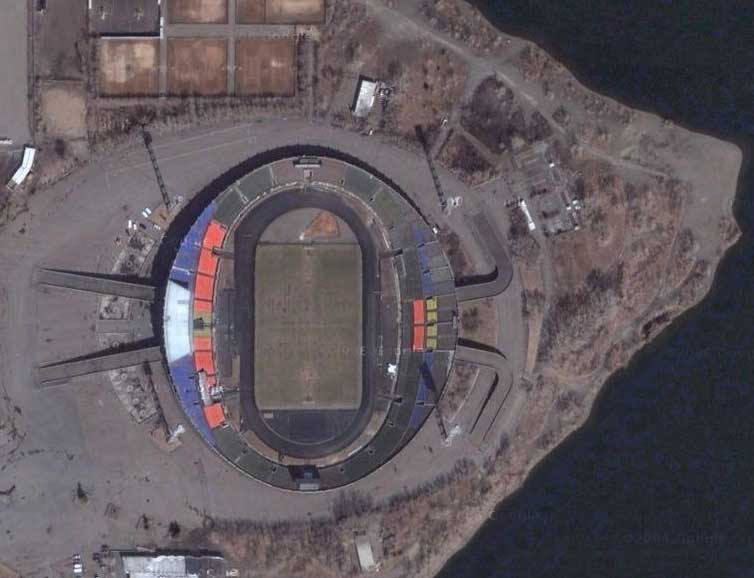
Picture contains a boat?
No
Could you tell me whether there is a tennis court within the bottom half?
No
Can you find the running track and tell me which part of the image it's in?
center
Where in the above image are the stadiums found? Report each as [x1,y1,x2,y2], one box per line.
[161,156,460,493]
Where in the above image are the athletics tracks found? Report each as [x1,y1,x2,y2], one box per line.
[236,189,380,459]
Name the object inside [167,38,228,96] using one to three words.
tennis court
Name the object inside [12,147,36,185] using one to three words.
building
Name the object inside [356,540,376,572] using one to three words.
building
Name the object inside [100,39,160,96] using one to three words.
tennis court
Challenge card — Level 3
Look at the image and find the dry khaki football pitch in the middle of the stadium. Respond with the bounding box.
[254,241,364,409]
